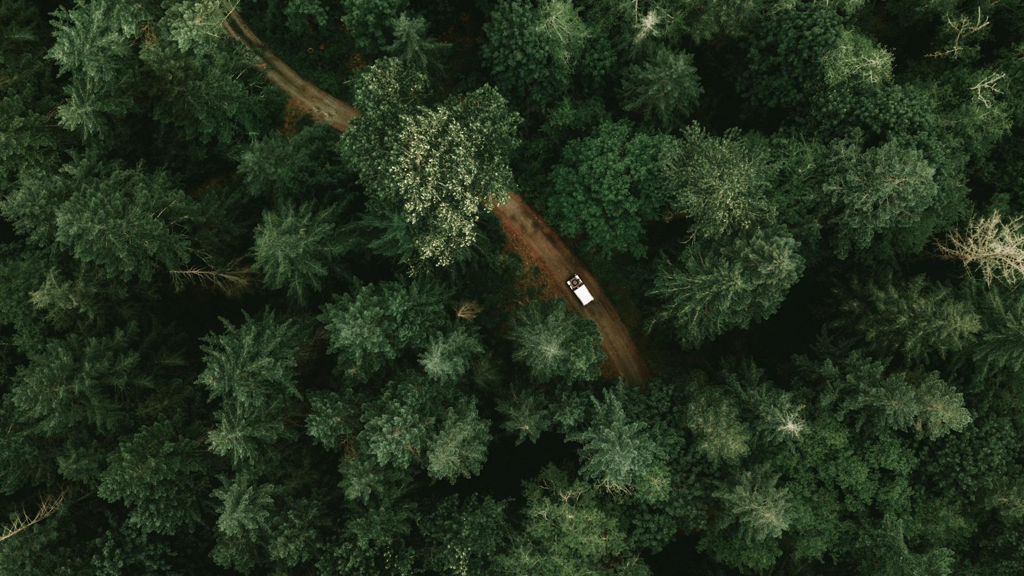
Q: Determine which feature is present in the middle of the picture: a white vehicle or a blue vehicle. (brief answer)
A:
white vehicle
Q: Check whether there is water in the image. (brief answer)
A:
No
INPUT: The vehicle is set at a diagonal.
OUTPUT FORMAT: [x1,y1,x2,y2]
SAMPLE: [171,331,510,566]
[567,274,594,306]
